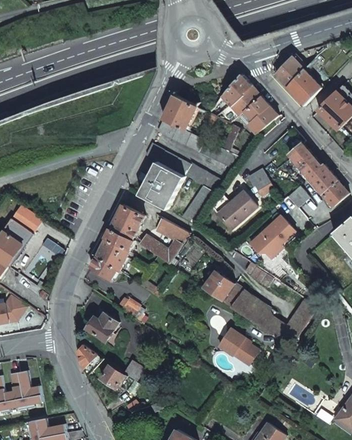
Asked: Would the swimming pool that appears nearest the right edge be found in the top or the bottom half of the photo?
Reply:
bottom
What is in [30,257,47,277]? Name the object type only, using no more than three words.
swimming pool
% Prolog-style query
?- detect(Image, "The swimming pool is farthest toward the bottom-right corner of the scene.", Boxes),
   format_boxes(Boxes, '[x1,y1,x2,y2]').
[288,384,316,405]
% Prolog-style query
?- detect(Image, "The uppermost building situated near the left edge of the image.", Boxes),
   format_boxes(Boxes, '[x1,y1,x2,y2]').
[12,206,42,232]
